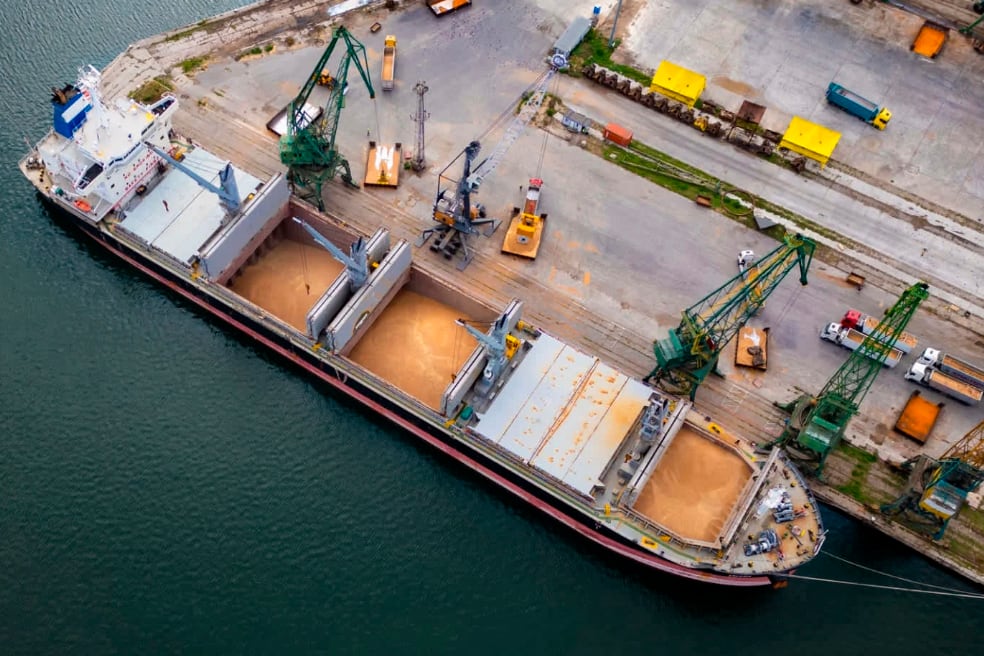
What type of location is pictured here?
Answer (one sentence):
This looks like a port.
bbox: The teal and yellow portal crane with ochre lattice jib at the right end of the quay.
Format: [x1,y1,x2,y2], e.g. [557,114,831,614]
[881,434,984,550]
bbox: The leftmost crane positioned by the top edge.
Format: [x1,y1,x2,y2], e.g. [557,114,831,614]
[271,23,382,210]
